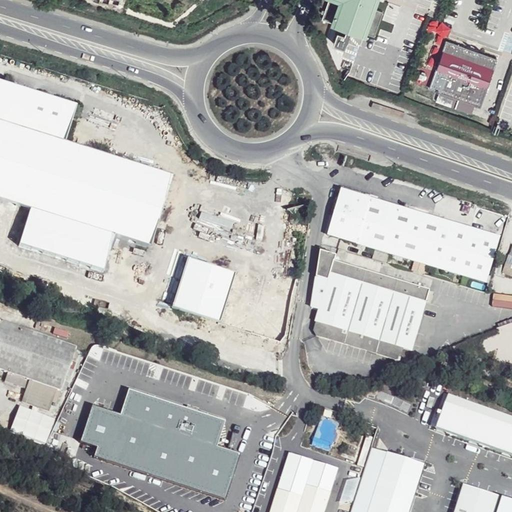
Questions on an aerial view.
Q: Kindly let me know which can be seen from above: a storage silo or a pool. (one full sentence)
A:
The one in the frame is a pool.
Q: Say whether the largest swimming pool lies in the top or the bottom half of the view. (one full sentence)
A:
The largest swimming pool is in the bottom half of the image.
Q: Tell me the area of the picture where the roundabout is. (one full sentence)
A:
Look in the top portion of the view to spot the roundabout.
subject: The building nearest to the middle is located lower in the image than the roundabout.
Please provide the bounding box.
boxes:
[173,256,234,321]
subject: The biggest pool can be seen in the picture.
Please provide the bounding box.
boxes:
[311,417,340,451]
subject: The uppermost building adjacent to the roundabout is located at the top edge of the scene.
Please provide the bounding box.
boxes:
[324,0,378,54]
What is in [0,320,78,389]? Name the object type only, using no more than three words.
building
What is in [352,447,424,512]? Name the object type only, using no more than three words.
building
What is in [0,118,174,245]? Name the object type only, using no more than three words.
warehouse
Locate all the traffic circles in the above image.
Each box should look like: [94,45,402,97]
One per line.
[186,26,321,160]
